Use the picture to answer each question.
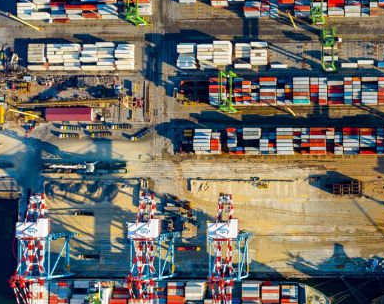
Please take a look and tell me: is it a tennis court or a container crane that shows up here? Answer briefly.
container crane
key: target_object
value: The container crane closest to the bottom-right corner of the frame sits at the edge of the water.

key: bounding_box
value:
[205,194,256,304]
